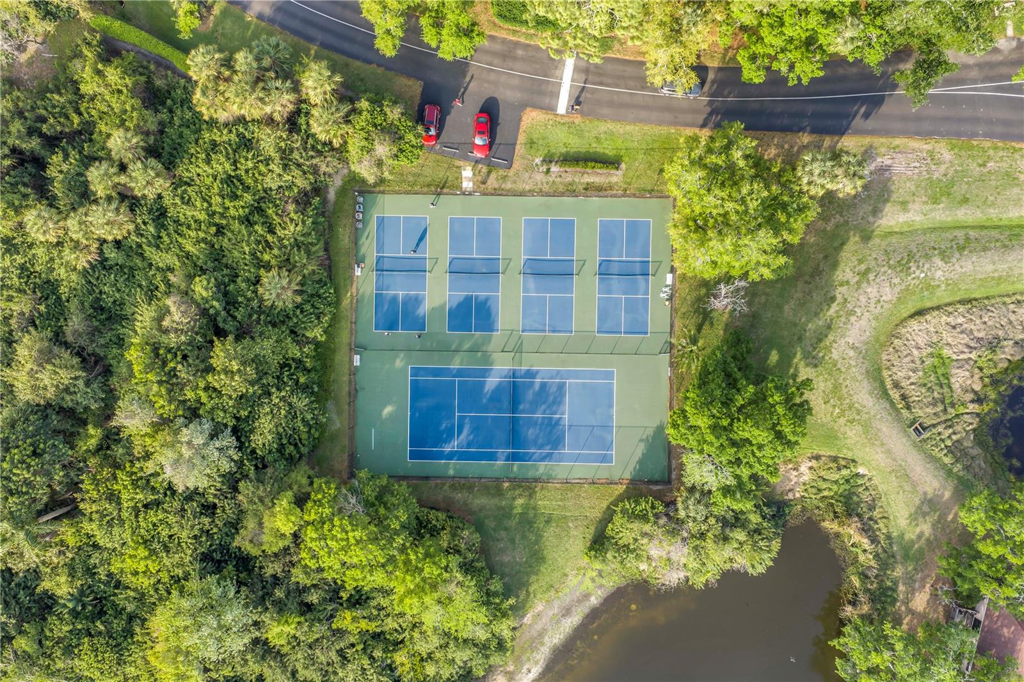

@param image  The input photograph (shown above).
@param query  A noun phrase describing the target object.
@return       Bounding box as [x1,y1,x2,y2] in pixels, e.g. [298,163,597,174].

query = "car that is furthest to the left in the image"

[419,103,440,146]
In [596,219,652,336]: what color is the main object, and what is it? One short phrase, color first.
blue sports court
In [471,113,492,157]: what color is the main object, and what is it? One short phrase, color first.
red car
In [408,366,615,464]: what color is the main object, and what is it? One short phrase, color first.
blue tennis court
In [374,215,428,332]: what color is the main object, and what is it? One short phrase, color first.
blue sports court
